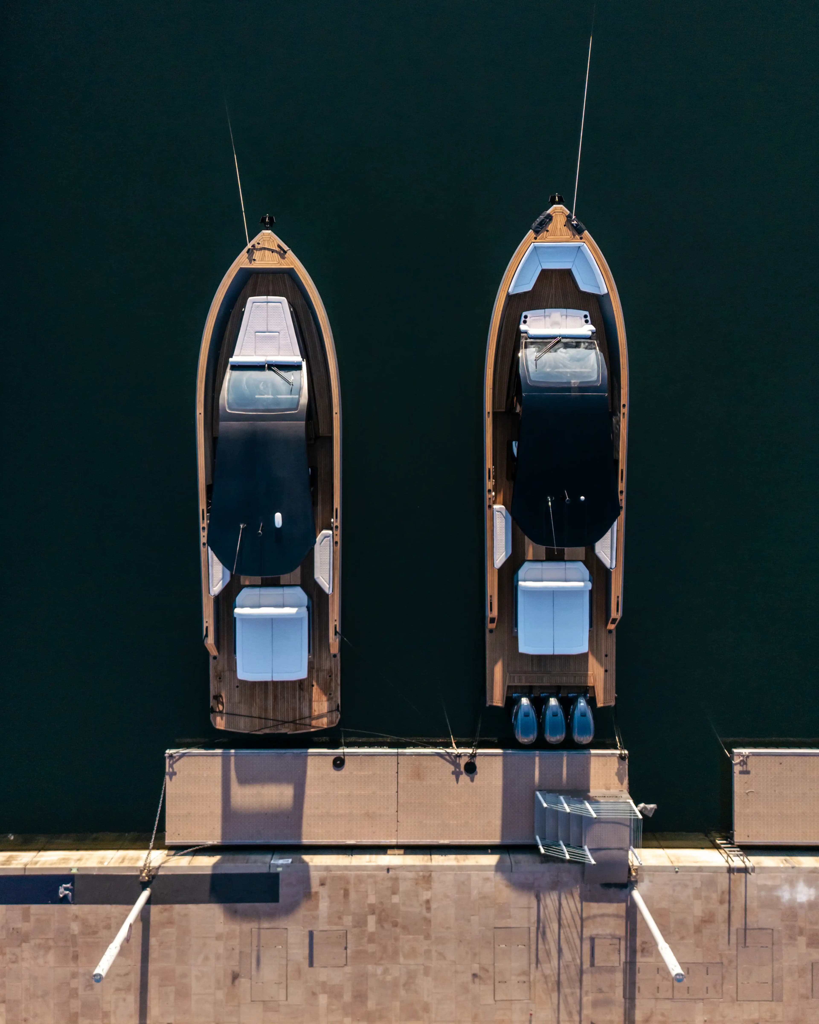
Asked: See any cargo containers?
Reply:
No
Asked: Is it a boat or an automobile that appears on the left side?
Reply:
boat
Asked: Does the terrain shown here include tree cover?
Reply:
No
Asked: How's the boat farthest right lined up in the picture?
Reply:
from top to bottom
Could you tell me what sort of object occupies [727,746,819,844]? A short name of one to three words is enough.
pier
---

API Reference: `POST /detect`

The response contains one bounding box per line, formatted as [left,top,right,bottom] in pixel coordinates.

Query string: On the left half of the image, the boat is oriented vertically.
[197,217,342,733]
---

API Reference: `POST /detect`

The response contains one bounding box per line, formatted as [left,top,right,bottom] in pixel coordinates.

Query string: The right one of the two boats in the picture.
[482,190,627,744]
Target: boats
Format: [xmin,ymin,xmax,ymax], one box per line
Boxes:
[197,217,342,733]
[482,190,627,744]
